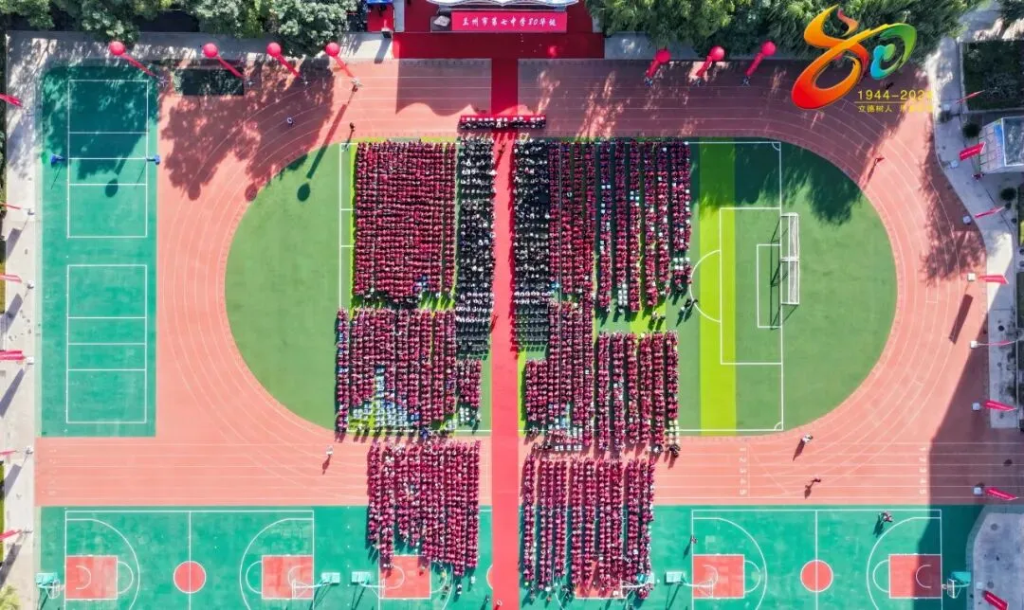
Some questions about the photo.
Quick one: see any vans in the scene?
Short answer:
No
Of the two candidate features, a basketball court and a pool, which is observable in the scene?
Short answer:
basketball court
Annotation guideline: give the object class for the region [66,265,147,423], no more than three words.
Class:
sports court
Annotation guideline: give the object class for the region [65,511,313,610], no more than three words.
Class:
basketball court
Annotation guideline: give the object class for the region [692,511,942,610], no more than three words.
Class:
basketball court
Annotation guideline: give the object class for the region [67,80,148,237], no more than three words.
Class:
sports court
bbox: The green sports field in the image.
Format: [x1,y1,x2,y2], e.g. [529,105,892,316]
[226,136,898,436]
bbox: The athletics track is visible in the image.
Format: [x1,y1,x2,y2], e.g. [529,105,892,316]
[36,58,1024,506]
